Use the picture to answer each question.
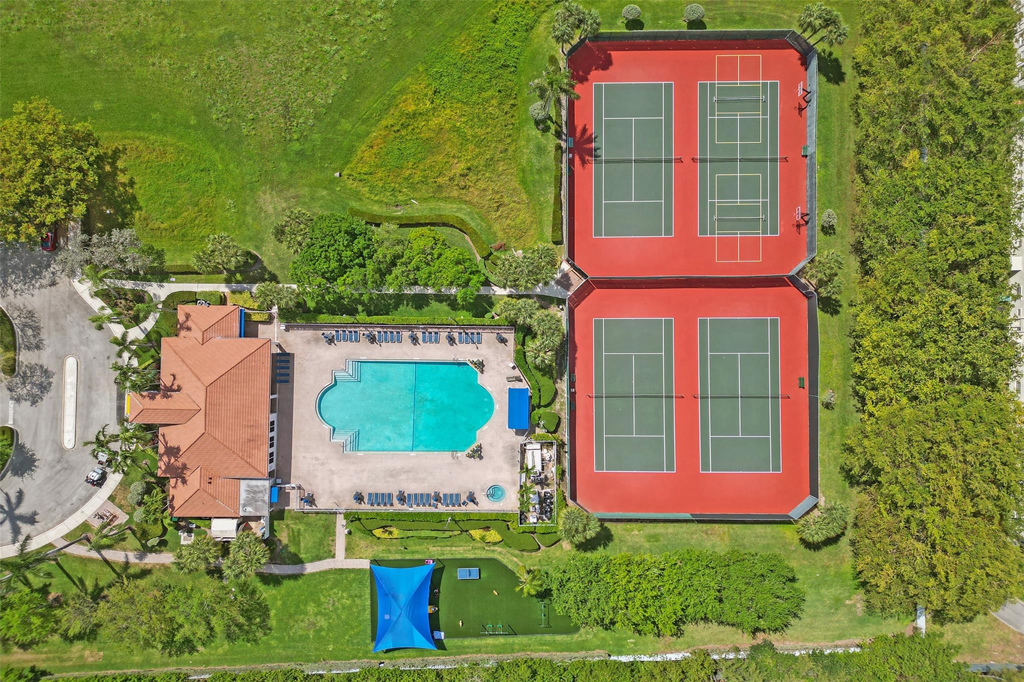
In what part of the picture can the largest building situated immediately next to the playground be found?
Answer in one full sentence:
The largest building situated immediately next to the playground sits in the left section of the image.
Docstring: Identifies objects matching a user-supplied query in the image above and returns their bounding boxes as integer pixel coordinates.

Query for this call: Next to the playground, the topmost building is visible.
[128,305,279,517]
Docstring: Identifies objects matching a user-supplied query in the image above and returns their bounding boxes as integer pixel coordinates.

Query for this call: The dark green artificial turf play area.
[370,558,582,644]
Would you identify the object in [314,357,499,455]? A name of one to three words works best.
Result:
swimming pool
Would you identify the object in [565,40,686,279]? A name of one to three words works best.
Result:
tennis court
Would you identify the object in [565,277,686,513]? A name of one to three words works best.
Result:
tennis court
